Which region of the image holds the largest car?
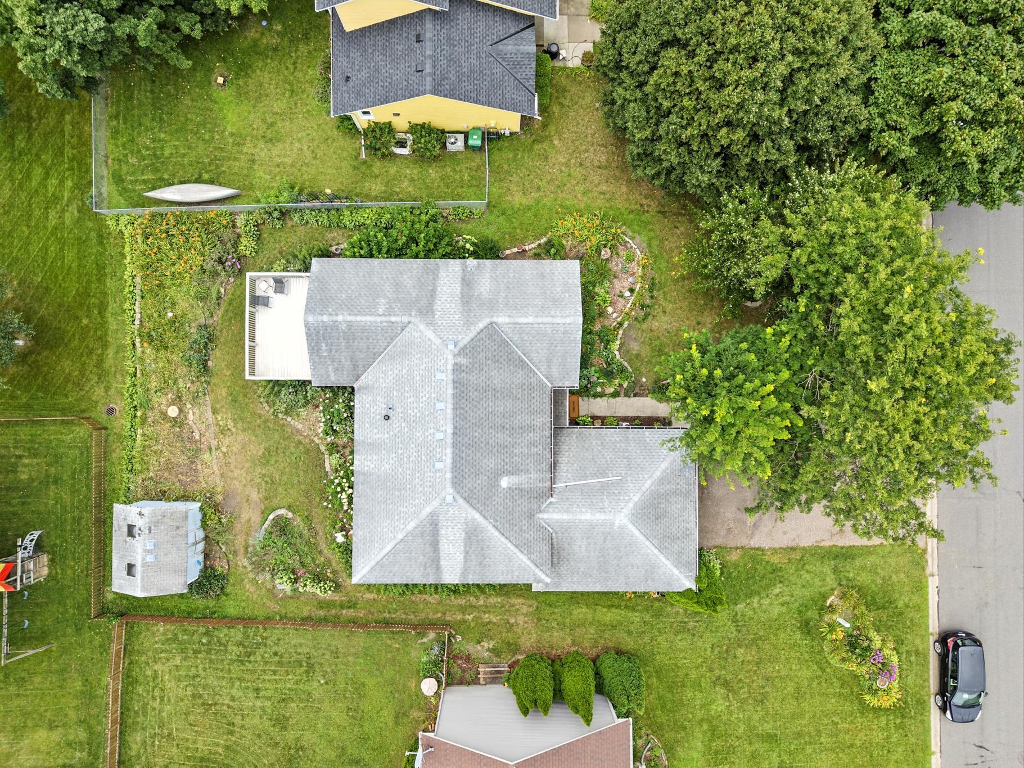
bottom right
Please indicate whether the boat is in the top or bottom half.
top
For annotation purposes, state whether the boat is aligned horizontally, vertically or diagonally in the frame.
horizontally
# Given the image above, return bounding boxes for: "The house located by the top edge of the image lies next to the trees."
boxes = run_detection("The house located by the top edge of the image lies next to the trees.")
[312,0,563,157]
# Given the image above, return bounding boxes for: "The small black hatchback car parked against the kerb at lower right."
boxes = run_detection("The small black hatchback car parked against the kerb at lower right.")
[935,633,990,723]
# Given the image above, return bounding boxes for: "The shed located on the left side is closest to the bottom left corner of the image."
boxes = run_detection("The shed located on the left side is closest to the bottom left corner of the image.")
[113,501,204,601]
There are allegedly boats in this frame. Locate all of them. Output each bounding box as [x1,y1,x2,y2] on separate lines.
[140,183,241,204]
